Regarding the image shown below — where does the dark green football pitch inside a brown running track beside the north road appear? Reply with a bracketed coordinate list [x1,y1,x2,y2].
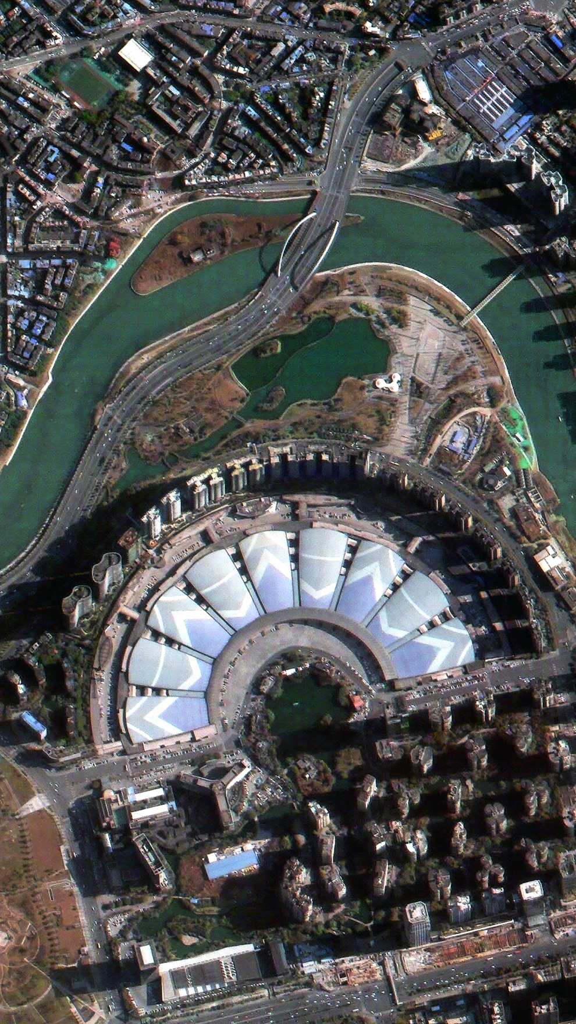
[63,62,114,106]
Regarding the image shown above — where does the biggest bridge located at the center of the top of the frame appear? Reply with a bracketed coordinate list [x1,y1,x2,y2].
[262,187,352,313]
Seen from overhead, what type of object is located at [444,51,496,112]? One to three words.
shed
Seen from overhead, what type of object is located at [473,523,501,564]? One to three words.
building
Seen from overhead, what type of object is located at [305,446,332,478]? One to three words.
building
